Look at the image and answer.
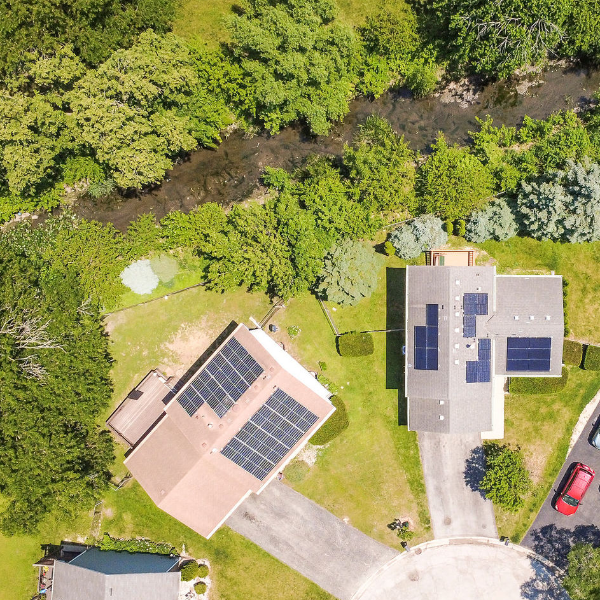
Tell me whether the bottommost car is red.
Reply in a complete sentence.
Yes, the bottommost car is indeed red.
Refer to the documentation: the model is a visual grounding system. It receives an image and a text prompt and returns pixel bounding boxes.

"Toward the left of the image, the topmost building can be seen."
[124,323,338,539]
